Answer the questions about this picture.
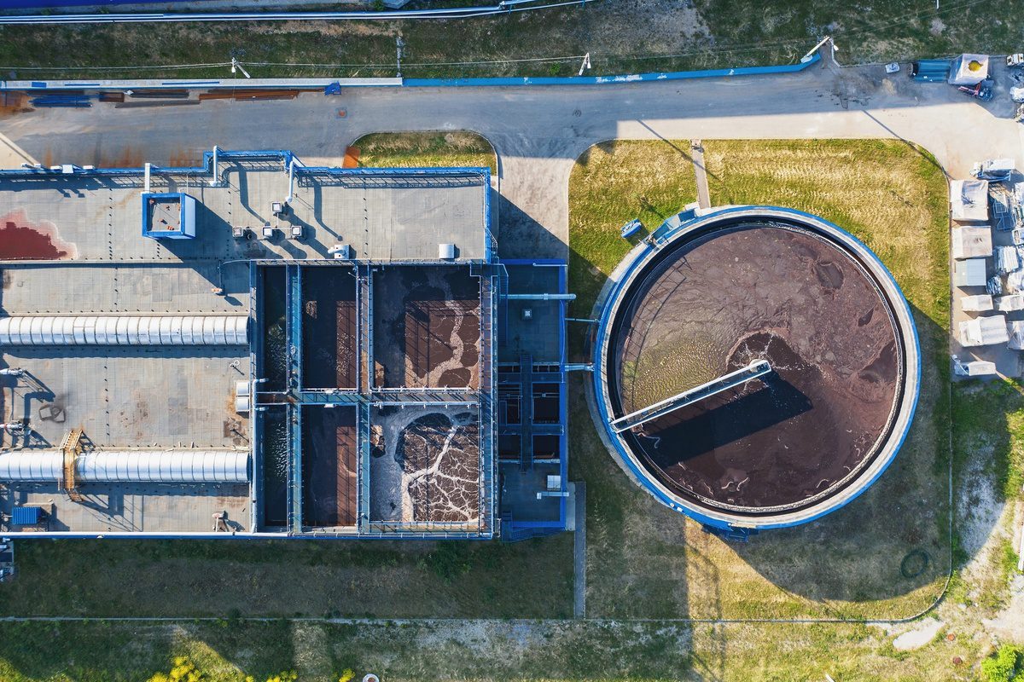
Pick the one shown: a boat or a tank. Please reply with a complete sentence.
I can see a tank in this picture.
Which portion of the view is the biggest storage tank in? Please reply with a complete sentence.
The biggest storage tank sits in the right section of the image.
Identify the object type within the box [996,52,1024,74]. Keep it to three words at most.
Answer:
truck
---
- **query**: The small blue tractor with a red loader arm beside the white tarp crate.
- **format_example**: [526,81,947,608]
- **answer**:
[958,82,1002,103]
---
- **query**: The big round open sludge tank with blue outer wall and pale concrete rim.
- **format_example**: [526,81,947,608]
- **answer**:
[593,207,921,529]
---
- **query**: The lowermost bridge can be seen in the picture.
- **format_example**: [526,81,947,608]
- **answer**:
[59,431,87,503]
